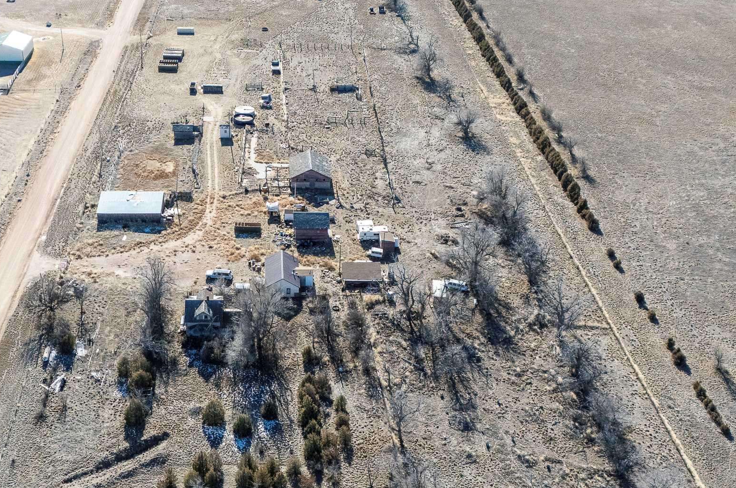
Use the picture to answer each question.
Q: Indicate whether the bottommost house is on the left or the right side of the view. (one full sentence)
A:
The bottommost house sits on the left side.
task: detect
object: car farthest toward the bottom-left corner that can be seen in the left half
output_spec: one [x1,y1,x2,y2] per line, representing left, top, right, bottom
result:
[204,267,233,281]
